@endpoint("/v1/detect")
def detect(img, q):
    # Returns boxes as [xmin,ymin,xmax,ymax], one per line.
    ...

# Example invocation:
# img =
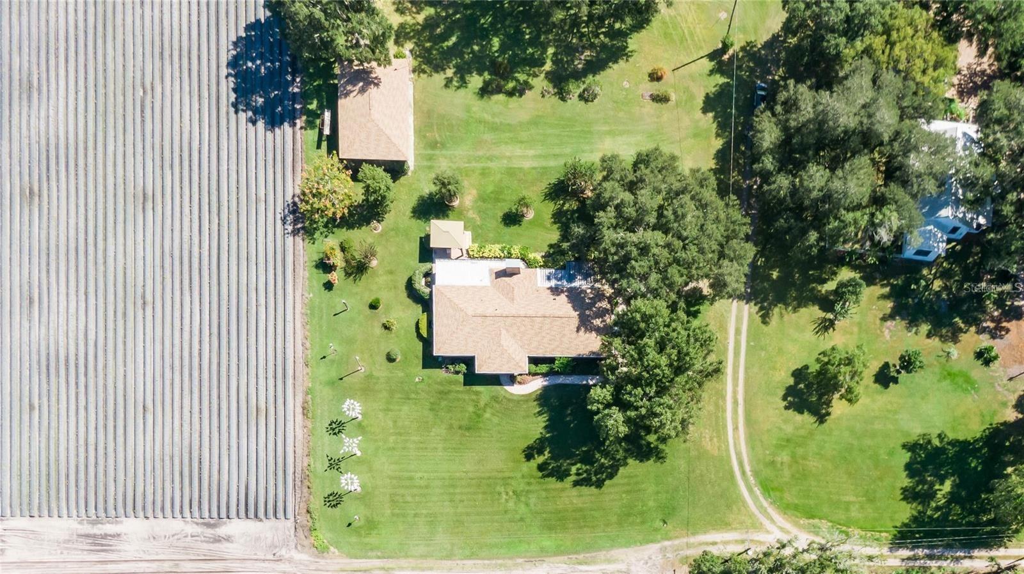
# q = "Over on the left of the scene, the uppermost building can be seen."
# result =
[339,58,410,171]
